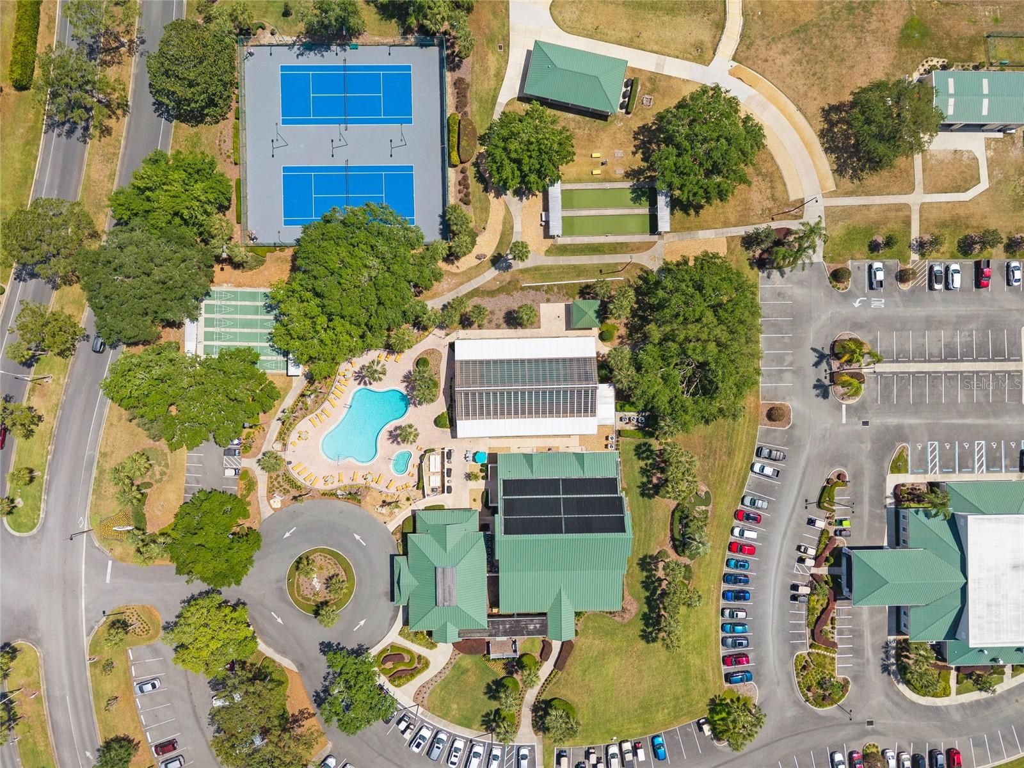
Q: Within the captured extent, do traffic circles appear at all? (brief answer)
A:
Yes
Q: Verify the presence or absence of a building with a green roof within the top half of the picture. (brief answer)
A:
Yes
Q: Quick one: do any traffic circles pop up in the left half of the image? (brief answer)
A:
Yes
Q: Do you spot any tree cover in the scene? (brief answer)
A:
Yes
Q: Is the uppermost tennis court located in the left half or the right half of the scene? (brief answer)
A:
left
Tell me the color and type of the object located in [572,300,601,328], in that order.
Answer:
green gazebo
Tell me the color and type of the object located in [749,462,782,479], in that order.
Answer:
white vehicle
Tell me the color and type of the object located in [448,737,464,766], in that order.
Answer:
white car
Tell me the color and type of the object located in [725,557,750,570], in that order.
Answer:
blue vehicle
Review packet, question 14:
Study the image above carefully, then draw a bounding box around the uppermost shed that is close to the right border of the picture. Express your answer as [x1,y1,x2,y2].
[910,70,1024,131]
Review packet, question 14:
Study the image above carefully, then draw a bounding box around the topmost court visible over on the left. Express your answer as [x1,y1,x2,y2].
[279,58,413,128]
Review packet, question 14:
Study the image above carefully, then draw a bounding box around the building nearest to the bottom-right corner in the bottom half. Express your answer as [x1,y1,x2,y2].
[851,480,1024,665]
